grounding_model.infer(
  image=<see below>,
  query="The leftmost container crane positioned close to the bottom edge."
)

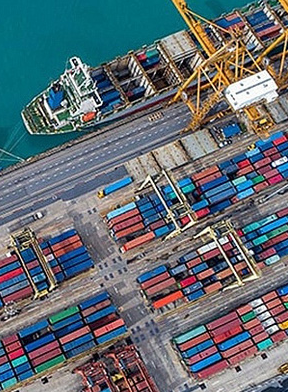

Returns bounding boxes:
[65,357,117,392]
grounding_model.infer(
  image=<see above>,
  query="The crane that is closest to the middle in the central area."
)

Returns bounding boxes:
[133,167,196,242]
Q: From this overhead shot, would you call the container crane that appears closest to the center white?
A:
Yes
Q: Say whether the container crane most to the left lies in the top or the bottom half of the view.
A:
bottom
